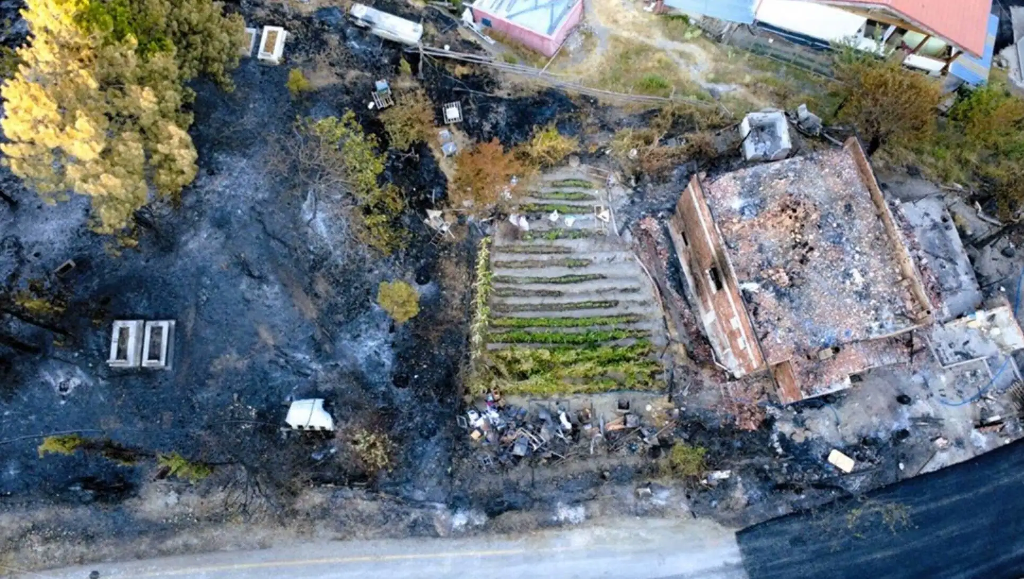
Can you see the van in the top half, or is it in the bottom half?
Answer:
top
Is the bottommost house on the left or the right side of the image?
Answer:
right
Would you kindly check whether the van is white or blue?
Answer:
white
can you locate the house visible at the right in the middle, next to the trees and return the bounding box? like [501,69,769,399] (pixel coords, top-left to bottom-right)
[669,140,934,406]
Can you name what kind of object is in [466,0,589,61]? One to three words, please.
shed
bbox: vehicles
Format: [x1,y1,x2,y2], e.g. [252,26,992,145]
[344,0,429,48]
